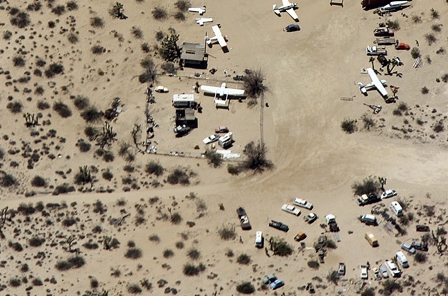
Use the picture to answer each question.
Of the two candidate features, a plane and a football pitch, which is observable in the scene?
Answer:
plane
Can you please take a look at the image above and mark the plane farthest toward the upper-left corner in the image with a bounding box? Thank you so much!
[203,25,226,48]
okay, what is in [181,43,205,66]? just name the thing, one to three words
building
